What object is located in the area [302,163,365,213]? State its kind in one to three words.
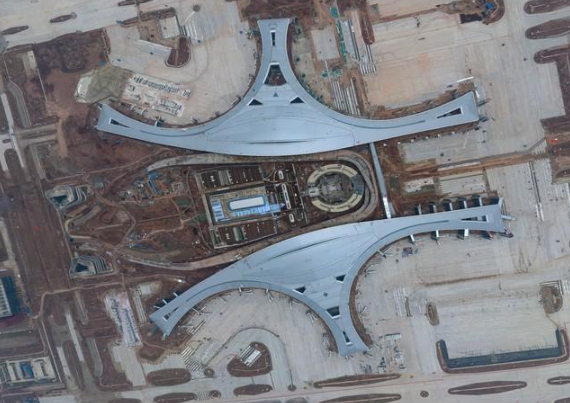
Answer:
building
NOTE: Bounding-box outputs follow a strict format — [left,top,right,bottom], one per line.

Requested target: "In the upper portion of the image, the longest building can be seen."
[96,17,479,156]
